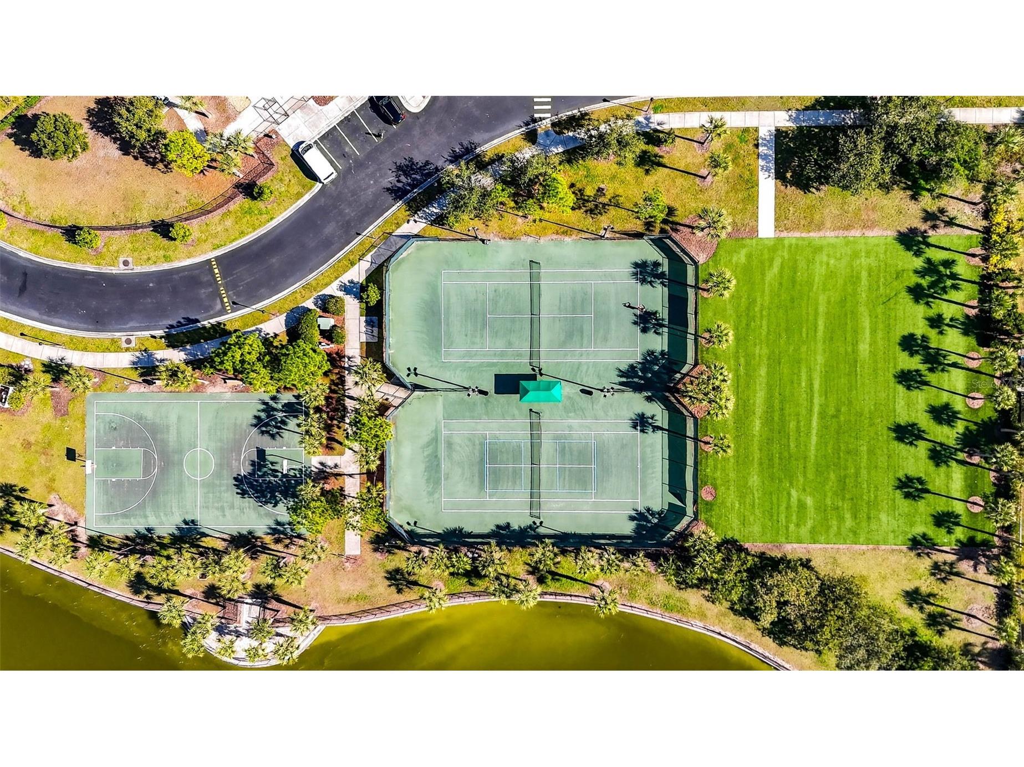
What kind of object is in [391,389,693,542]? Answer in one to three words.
tennis court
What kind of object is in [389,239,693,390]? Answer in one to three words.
tennis court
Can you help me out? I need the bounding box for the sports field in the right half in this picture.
[695,234,995,550]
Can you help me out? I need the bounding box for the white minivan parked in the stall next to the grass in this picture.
[303,144,338,187]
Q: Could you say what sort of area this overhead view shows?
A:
sports ground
